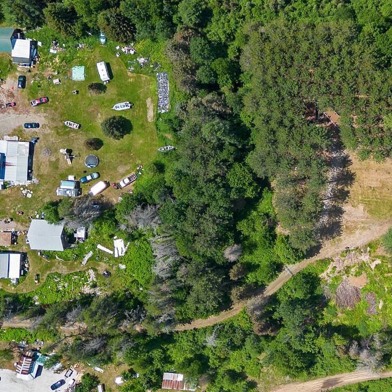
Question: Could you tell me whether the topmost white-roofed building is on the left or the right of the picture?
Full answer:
The topmost white-roofed building appears in the left half of the scene.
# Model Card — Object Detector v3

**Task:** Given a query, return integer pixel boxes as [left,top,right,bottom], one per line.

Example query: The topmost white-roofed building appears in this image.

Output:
[11,39,39,68]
